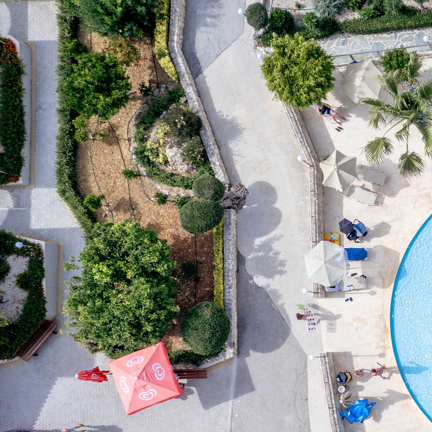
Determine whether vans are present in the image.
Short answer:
No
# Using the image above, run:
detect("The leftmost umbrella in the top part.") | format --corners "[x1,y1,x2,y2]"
[317,149,359,190]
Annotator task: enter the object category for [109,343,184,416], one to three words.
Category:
umbrella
